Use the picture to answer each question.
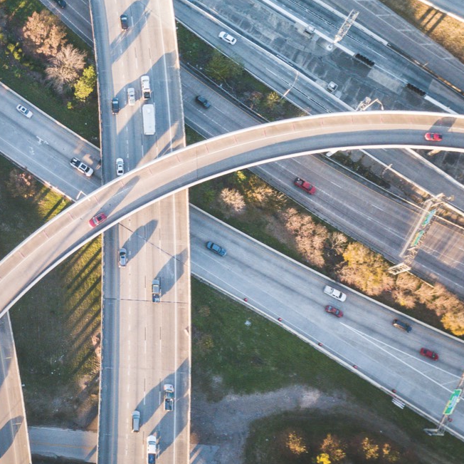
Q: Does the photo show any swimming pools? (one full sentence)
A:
No, this view has no swimming pool in it.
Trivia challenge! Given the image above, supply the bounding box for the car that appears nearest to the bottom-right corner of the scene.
[417,345,440,361]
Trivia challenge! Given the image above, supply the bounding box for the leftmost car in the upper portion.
[14,102,33,119]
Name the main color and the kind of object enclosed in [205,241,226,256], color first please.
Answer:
blue car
